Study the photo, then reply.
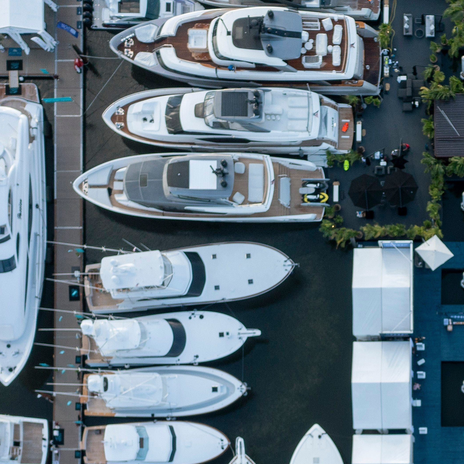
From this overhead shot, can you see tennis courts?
No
